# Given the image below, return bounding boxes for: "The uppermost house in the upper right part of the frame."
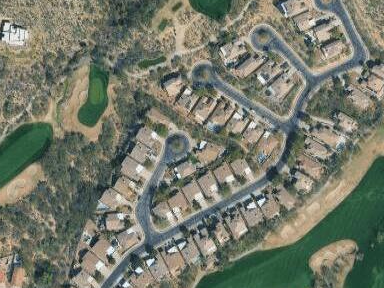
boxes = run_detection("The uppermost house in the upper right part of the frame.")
[281,0,310,18]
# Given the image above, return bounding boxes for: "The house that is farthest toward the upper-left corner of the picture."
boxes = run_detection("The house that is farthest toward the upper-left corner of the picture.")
[2,21,28,46]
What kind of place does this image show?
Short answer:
residential area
